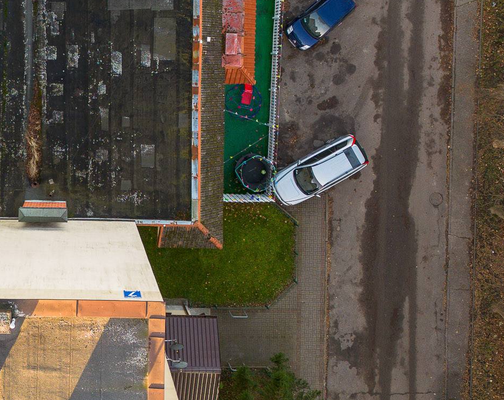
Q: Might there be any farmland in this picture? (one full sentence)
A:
No, no farmland is visible.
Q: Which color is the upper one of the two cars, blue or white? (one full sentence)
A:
The upper one of the two cars is blue.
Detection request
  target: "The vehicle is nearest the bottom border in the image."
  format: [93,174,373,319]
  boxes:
[273,135,369,206]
